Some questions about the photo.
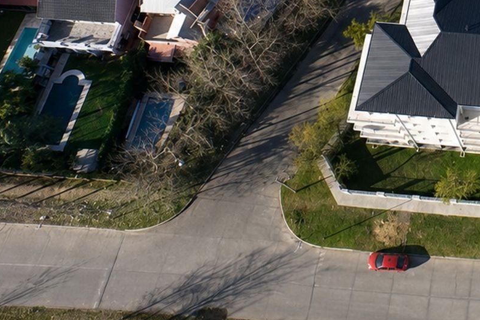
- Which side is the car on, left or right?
right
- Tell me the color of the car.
red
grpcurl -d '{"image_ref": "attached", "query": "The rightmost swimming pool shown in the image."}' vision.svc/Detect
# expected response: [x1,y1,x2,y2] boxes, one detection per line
[125,94,177,149]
